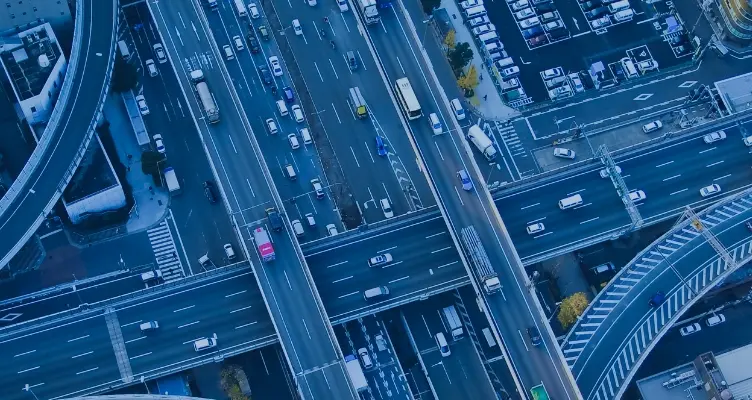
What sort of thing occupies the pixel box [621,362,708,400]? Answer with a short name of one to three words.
building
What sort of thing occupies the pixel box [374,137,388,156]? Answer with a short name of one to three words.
vehicle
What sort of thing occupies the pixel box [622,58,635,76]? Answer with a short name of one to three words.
vehicle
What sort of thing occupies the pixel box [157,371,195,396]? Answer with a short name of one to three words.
shed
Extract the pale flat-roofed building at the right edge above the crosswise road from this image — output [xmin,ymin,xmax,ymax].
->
[704,71,752,119]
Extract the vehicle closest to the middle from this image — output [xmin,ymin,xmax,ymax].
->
[380,197,394,217]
